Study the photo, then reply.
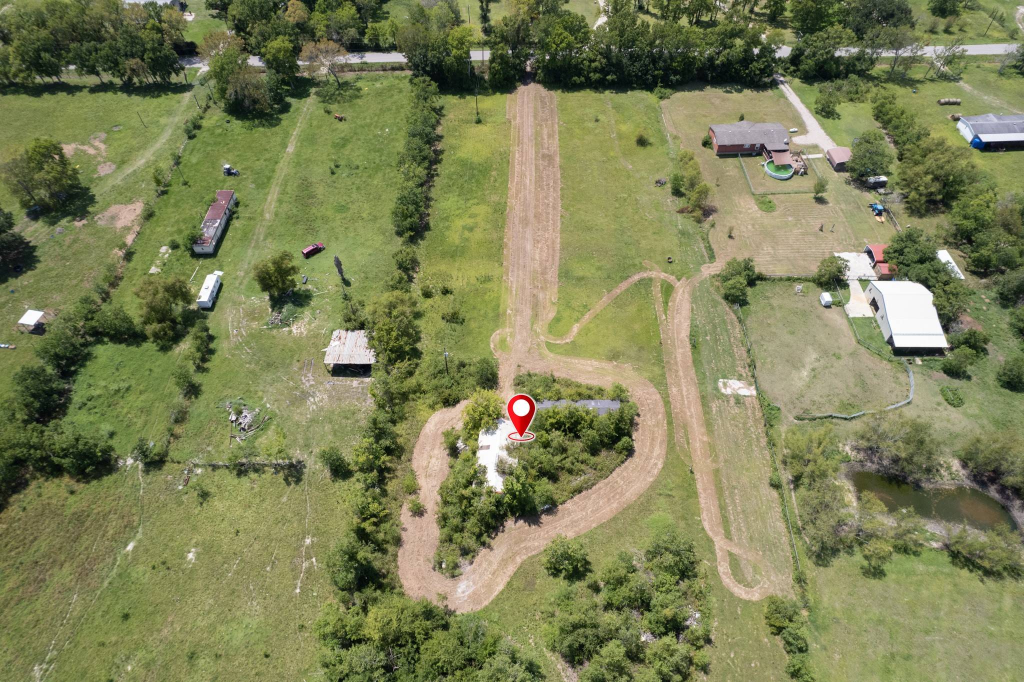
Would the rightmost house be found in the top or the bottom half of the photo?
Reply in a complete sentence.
The rightmost house is in the top half of the image.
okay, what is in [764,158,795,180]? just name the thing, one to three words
swimming pool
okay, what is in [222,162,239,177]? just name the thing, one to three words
work vehicle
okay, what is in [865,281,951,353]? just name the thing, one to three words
barn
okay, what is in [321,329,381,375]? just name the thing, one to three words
shed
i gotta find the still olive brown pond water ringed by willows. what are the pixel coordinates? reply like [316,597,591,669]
[846,470,1020,534]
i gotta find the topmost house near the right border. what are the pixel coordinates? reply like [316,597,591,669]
[960,110,1024,148]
